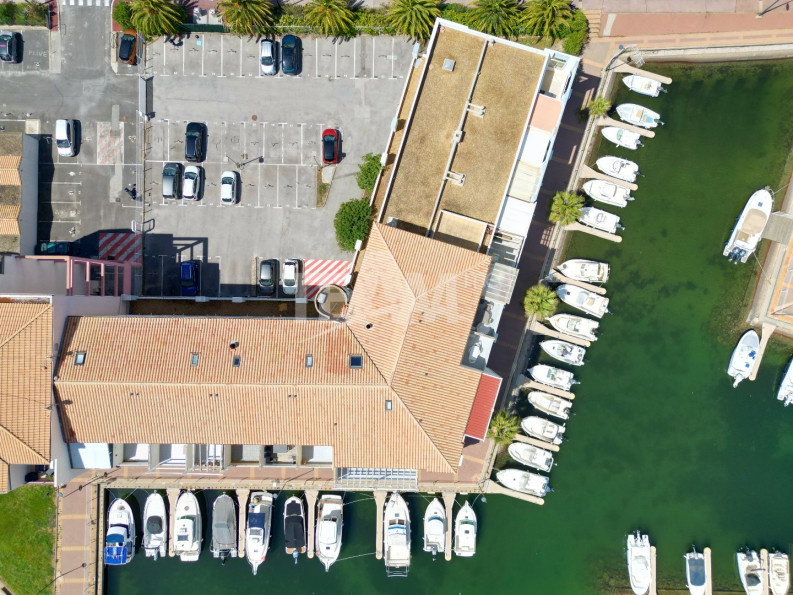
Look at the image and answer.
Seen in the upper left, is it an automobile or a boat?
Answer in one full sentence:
It is an automobile that can be seen in the upper left.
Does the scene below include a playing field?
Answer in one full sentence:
No, there is no playing field in the image.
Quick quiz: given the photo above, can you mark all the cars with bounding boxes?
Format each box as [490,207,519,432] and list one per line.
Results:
[259,39,276,78]
[281,259,299,296]
[39,239,75,255]
[182,166,202,201]
[180,262,201,296]
[220,170,239,206]
[257,259,276,297]
[160,163,182,201]
[184,122,205,163]
[281,36,300,77]
[118,30,140,67]
[54,119,77,156]
[321,129,340,166]
[0,32,19,65]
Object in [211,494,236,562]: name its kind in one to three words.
boat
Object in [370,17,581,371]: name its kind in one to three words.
building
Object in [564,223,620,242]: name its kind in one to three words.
pier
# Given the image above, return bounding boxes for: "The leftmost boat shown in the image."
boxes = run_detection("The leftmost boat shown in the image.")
[101,498,138,568]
